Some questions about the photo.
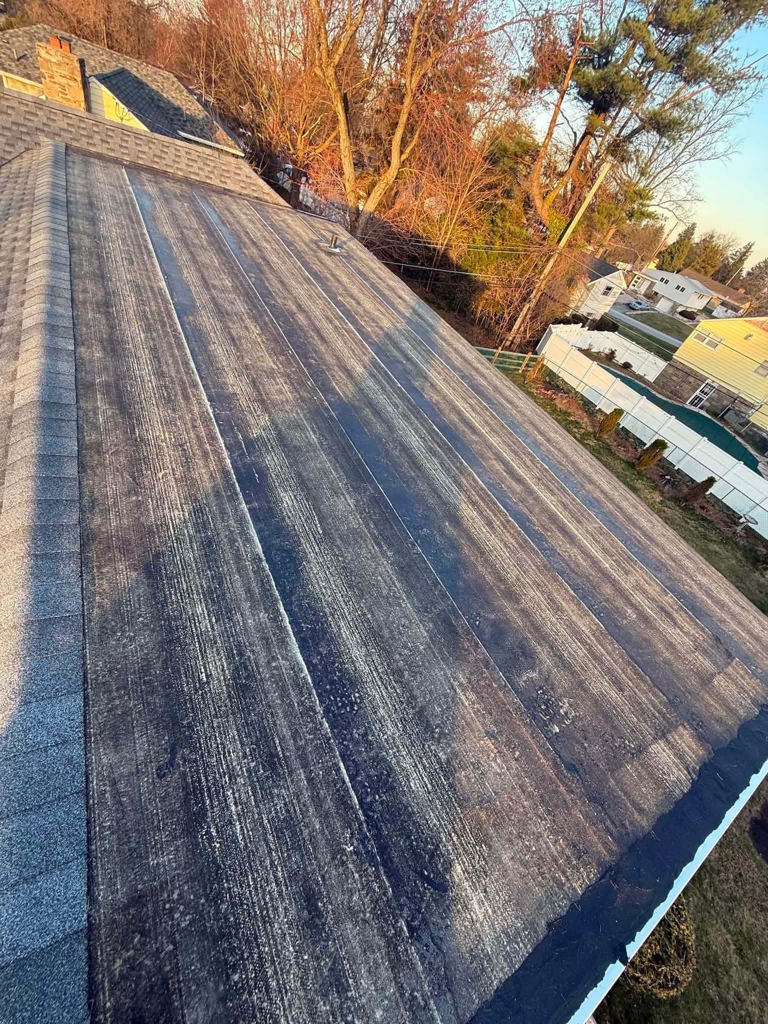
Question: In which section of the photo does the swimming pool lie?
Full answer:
You can find the swimming pool in the right area of the picture.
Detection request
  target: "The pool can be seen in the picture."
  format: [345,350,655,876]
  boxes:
[601,362,768,496]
